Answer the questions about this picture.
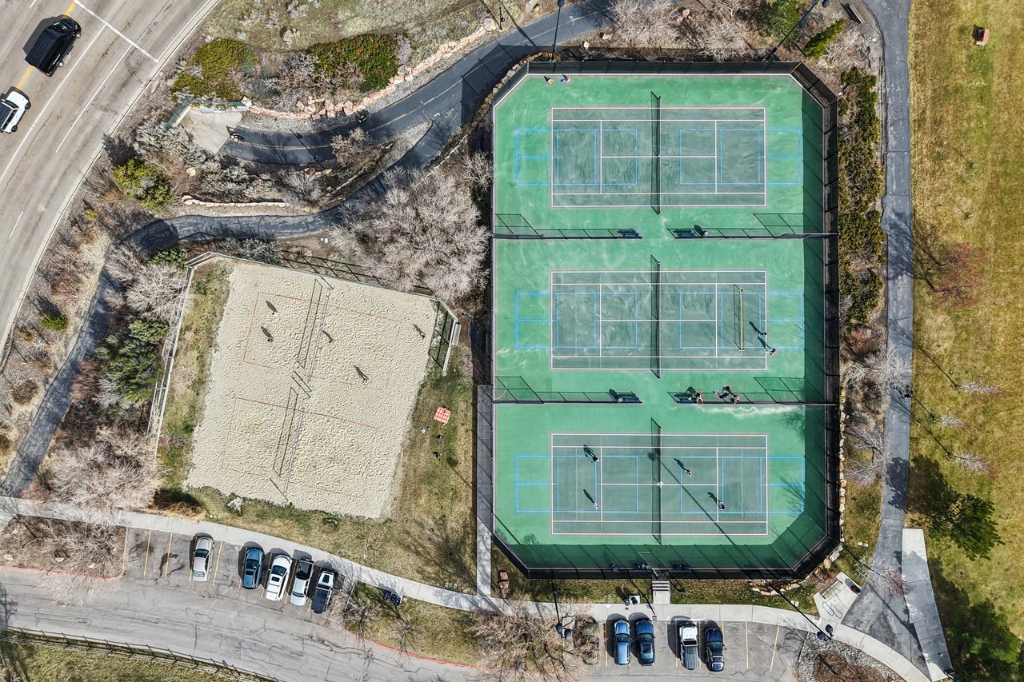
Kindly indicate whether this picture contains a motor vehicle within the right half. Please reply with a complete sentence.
Yes, a motor vehicle appears within the right half.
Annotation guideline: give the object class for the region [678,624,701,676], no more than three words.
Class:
car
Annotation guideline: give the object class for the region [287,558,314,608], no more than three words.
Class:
vehicle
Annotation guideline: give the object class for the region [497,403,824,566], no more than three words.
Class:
tennis court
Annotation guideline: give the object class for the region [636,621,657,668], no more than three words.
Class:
car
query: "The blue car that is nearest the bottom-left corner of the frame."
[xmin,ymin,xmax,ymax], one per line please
[238,550,262,593]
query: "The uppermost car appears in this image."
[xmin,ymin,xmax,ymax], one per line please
[32,17,79,68]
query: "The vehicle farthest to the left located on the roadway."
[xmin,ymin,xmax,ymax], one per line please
[0,89,28,131]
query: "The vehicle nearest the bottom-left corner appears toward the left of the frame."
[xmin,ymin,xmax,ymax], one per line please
[187,538,212,584]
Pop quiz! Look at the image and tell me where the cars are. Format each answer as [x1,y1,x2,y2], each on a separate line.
[703,627,725,673]
[614,623,633,667]
[0,89,28,131]
[32,17,79,68]
[238,550,262,593]
[678,624,701,676]
[306,571,336,620]
[187,538,212,584]
[262,556,292,604]
[636,621,657,668]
